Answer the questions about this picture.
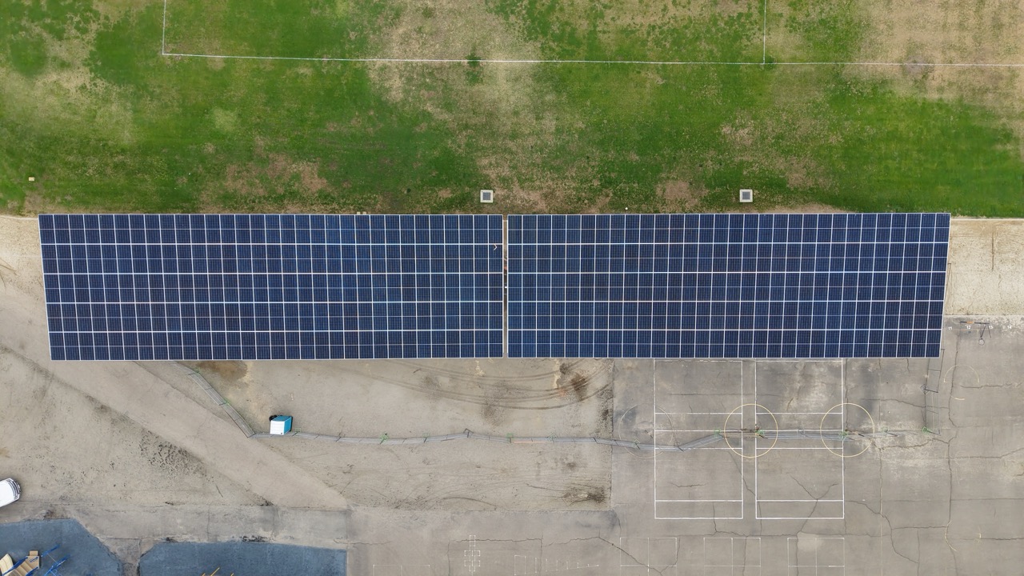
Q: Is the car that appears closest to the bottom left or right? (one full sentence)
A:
The car that appears closest to the bottom appears in the left half of the scene.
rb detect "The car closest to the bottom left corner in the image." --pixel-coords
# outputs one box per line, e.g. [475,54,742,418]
[0,483,21,512]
